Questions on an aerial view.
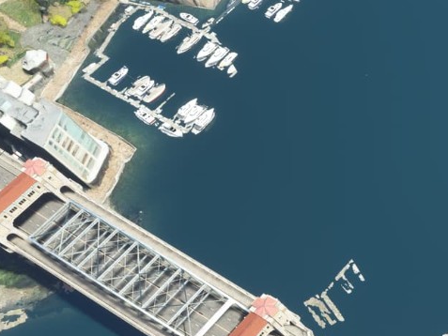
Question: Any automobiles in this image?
No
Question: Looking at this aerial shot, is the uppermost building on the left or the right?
left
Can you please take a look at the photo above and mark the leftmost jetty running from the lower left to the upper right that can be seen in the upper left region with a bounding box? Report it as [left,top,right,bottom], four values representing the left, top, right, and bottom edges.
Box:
[81,5,140,76]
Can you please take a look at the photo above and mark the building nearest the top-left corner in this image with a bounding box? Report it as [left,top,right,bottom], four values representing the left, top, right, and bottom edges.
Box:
[22,49,55,78]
